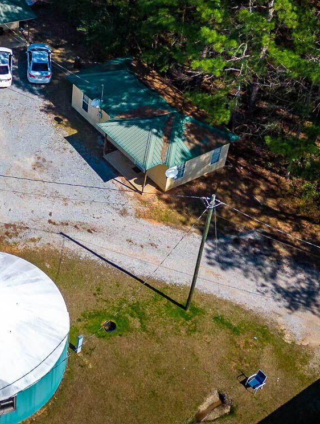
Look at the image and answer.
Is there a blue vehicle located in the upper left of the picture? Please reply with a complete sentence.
Yes, a blue vehicle appears in the upper left of the picture.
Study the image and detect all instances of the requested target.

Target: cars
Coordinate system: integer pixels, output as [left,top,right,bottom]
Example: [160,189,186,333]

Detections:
[25,41,55,83]
[0,46,15,88]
